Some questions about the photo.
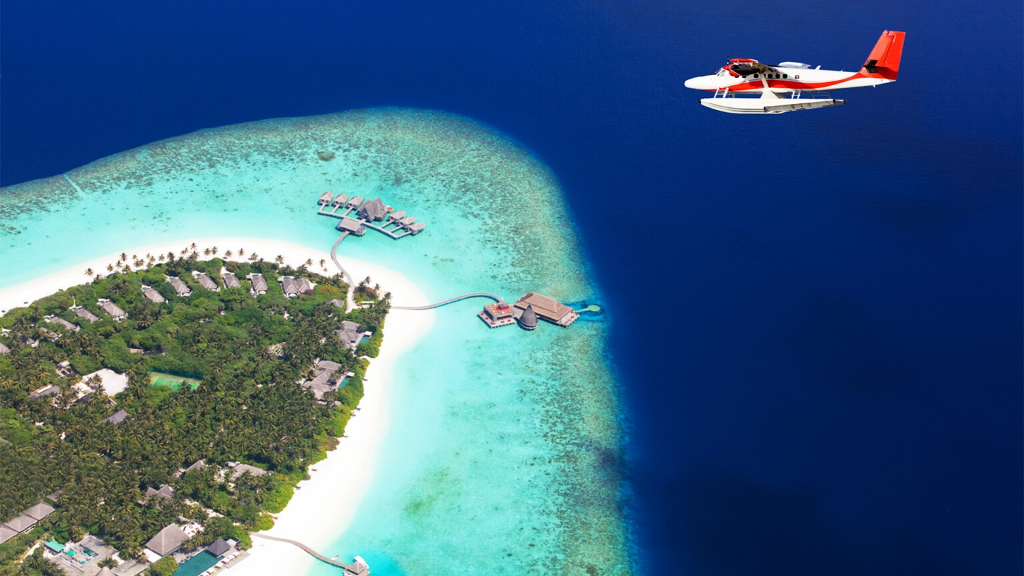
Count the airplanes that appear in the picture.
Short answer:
1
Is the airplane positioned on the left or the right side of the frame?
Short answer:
right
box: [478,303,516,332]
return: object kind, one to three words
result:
building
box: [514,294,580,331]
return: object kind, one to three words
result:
building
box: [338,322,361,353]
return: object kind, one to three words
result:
house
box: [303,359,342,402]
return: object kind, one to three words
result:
house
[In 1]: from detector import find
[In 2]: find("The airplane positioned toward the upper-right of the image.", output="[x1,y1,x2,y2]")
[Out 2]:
[685,31,905,112]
